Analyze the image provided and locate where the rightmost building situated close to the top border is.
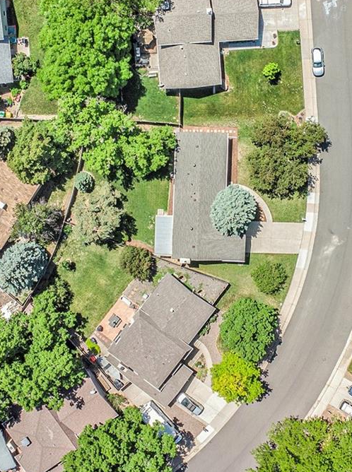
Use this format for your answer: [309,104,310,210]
[156,0,258,88]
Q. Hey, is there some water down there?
No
